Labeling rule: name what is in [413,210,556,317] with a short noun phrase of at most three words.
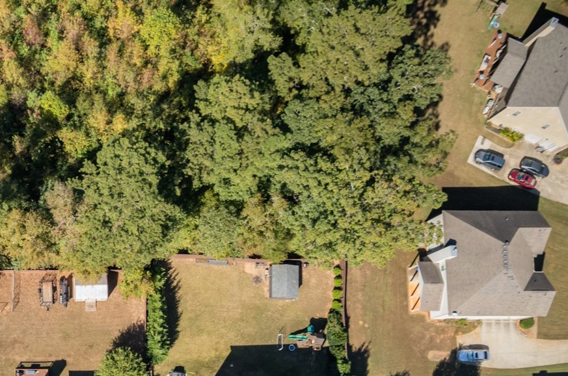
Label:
house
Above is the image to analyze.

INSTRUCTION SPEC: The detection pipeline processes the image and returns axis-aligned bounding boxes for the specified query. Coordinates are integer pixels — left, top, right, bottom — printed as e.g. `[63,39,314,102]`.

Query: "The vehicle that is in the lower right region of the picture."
[455,348,491,364]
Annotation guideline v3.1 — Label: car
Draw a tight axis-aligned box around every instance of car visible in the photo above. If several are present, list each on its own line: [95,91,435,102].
[455,348,491,364]
[517,158,551,178]
[472,149,507,171]
[506,170,538,189]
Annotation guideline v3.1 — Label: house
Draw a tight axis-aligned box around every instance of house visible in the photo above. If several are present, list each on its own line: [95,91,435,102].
[413,210,556,317]
[486,13,568,134]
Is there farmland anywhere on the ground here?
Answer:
No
